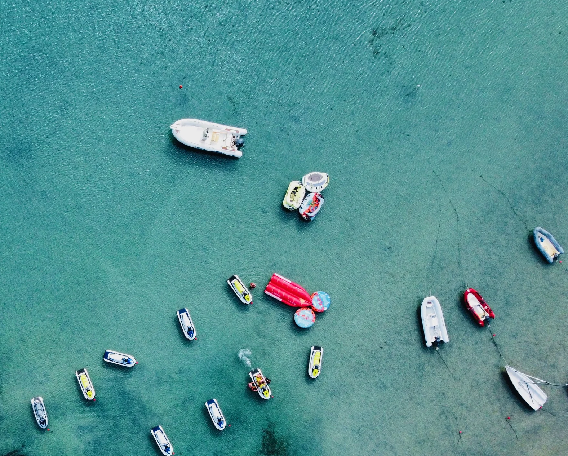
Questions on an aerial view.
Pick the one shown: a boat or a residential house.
boat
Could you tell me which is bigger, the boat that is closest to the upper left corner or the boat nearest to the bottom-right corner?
the boat that is closest to the upper left corner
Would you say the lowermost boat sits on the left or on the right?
left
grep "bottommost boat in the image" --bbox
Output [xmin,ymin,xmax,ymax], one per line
[151,424,172,456]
